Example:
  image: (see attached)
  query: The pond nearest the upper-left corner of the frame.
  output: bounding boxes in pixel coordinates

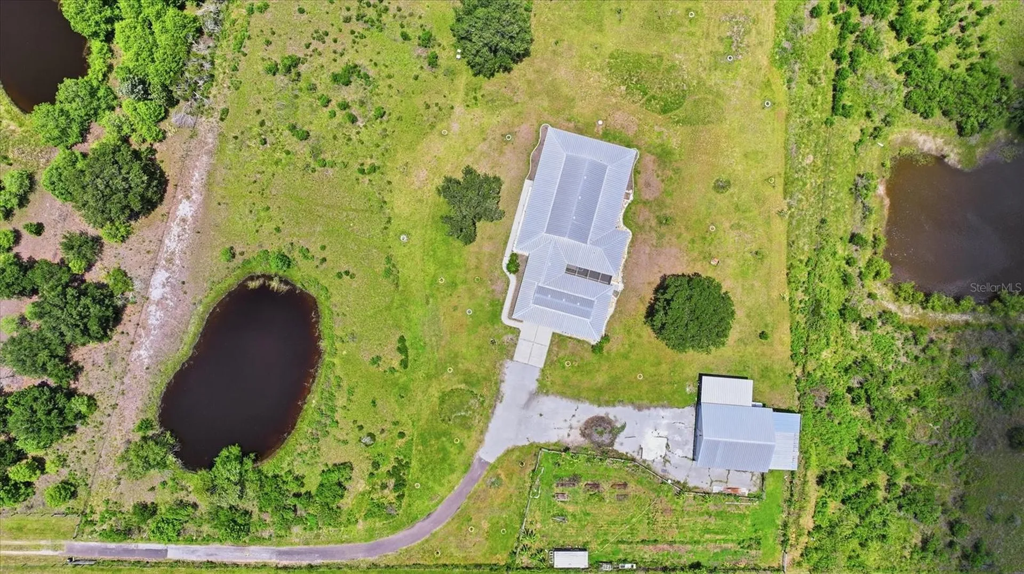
[0,0,91,113]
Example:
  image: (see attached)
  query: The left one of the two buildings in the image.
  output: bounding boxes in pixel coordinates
[512,126,638,341]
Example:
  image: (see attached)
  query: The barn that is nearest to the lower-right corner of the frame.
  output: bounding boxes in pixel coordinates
[693,375,801,473]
